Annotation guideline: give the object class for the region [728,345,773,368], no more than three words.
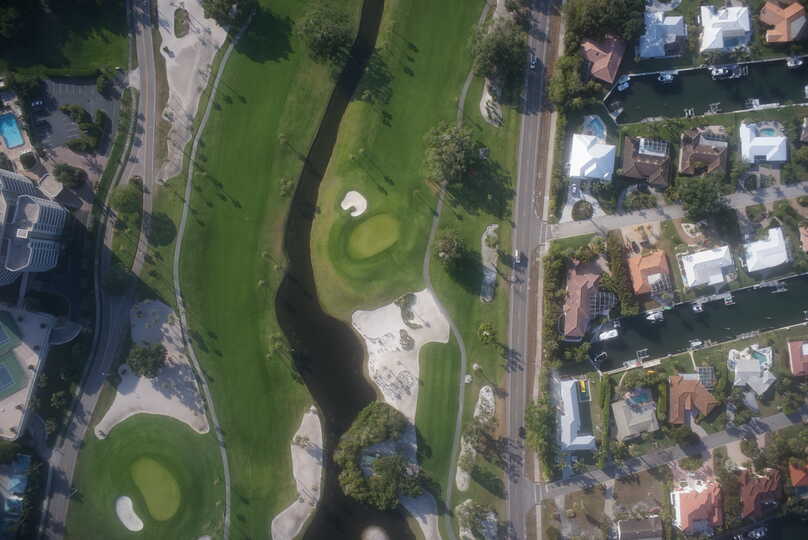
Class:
swimming pool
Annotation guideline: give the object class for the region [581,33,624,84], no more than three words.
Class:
house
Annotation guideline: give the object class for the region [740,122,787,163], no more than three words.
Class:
house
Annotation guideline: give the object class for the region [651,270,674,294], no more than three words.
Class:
swimming pool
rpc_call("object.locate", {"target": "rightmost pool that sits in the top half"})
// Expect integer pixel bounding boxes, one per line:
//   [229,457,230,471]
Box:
[754,120,785,137]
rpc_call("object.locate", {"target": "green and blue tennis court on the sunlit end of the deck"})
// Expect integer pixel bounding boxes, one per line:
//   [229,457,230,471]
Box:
[0,354,28,397]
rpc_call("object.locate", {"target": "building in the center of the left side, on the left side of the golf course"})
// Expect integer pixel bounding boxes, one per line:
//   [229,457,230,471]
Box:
[0,163,67,287]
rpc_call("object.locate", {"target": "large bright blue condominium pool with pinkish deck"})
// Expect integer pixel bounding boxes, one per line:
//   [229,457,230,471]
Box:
[0,98,35,168]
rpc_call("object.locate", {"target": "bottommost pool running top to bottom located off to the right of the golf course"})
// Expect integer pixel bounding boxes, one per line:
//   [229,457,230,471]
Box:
[577,378,593,436]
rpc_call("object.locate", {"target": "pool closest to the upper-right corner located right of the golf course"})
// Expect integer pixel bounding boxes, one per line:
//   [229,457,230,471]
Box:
[721,30,752,50]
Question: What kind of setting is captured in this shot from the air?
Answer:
golf course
